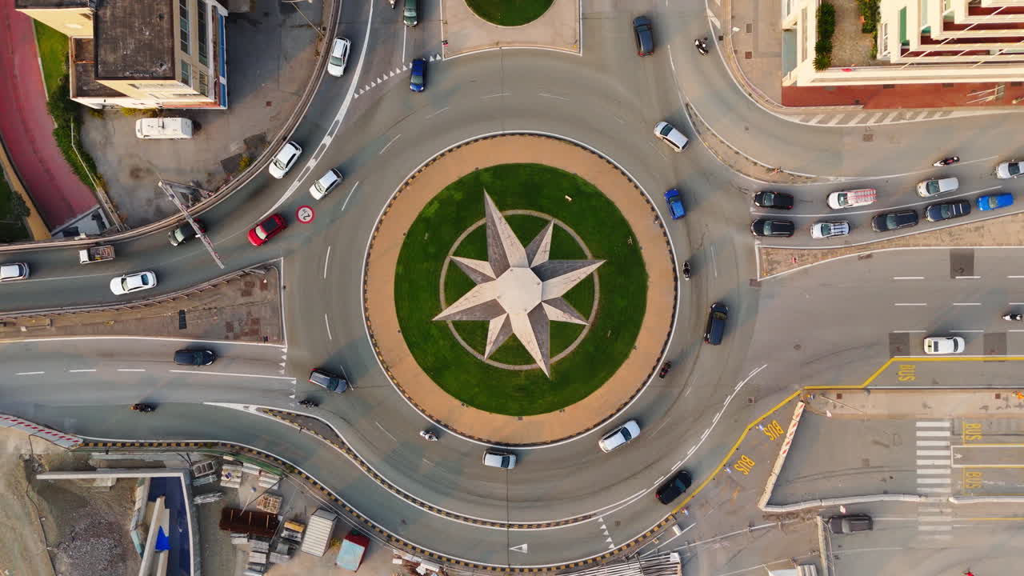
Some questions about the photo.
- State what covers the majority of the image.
paved ground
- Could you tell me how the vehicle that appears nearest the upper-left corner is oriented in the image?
from side to side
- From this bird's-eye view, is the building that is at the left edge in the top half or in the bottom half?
top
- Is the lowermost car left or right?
right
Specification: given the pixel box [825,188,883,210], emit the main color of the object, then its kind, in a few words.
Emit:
white vehicle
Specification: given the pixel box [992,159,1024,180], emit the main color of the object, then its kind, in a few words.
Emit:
white car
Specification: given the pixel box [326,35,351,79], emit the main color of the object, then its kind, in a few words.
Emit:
white car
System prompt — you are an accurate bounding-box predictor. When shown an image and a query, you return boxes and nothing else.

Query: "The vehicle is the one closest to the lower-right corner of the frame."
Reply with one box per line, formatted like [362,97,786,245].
[826,513,873,535]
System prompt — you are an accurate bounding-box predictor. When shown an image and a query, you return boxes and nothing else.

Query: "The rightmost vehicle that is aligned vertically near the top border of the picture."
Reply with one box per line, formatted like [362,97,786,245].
[632,16,653,59]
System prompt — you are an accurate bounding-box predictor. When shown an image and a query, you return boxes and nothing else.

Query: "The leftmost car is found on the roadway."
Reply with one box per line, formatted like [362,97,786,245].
[0,262,33,282]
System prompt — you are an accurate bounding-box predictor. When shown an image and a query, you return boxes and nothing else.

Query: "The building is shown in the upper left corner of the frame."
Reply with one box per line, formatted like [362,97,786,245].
[15,0,232,111]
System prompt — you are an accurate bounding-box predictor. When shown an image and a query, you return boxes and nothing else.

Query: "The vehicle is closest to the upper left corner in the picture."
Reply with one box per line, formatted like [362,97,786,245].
[137,115,196,140]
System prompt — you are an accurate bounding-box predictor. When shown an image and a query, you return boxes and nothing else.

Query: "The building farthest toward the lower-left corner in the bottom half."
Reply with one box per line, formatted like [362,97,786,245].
[301,507,339,557]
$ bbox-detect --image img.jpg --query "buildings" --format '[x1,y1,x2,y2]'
[765,561,799,576]
[336,530,371,571]
[781,0,1024,91]
[15,0,232,111]
[301,507,339,557]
